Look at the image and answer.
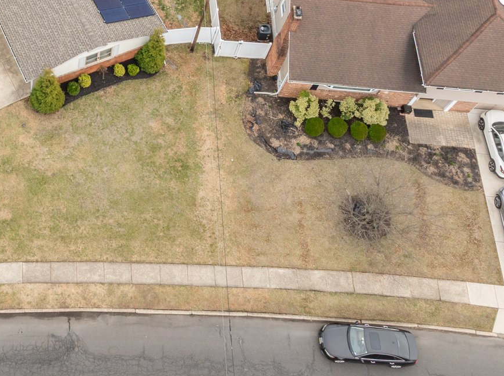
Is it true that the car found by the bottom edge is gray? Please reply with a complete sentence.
Yes, the car found by the bottom edge is gray.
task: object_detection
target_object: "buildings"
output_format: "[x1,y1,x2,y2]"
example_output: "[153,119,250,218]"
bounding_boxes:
[0,0,169,94]
[248,0,504,114]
